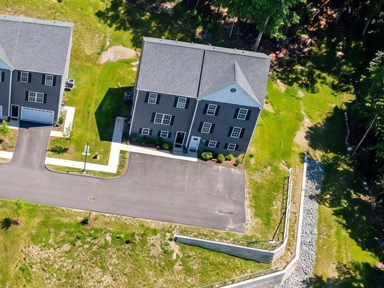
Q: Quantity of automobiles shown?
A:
zero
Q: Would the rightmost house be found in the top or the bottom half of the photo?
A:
top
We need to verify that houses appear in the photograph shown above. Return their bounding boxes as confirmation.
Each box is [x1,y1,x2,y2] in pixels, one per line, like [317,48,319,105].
[128,35,270,154]
[0,13,76,126]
